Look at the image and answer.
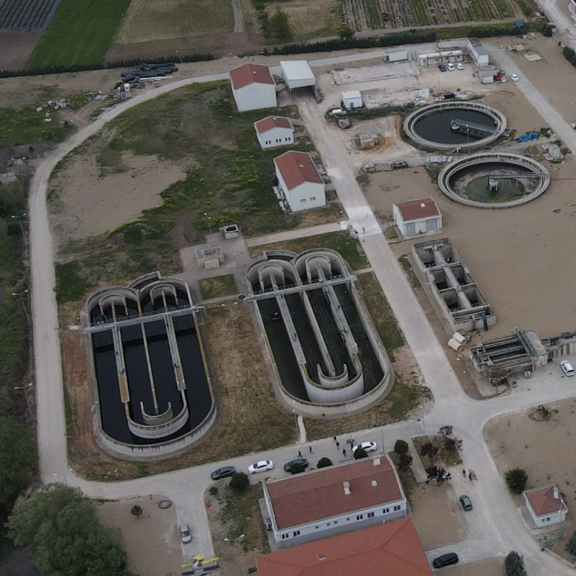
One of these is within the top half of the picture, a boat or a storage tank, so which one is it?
storage tank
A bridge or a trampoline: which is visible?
bridge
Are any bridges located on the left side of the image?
Yes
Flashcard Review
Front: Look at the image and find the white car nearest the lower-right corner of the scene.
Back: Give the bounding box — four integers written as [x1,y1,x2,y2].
[563,361,576,376]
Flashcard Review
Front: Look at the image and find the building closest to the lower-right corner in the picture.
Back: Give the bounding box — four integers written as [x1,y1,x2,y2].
[519,481,575,533]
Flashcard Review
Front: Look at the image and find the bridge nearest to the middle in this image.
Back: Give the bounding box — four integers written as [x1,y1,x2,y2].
[241,272,359,306]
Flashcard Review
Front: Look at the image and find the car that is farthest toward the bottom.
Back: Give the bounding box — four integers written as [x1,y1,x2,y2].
[431,551,460,567]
